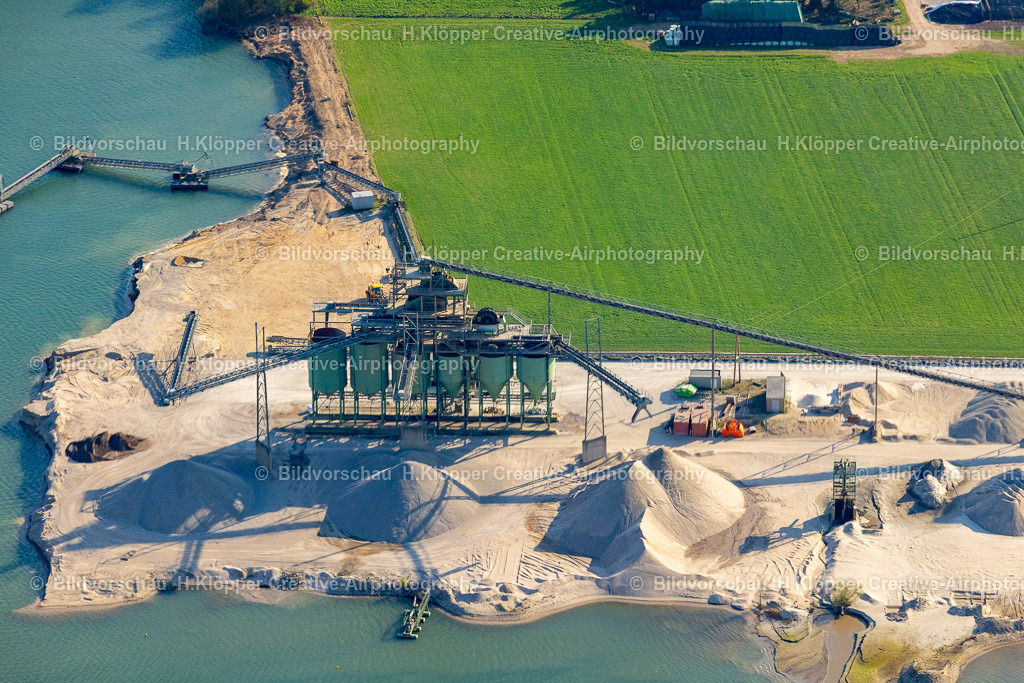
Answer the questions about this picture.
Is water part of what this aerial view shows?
Yes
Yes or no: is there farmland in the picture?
Yes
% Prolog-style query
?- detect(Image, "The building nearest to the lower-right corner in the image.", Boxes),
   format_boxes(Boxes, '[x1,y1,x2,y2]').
[765,370,788,413]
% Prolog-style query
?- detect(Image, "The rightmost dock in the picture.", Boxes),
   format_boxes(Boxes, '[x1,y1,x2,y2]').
[399,577,443,637]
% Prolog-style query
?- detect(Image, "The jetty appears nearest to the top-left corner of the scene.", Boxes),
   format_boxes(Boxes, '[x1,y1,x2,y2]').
[50,130,95,171]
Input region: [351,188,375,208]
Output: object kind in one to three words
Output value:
shed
